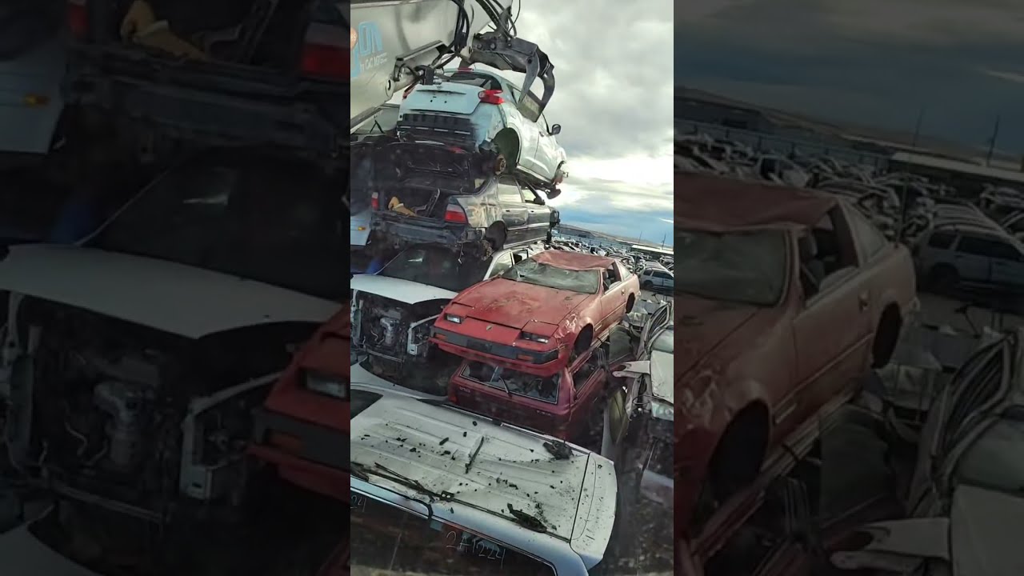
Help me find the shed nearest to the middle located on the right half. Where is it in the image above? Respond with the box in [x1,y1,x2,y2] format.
[619,241,674,267]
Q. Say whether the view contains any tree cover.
No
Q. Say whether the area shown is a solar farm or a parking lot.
parking lot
